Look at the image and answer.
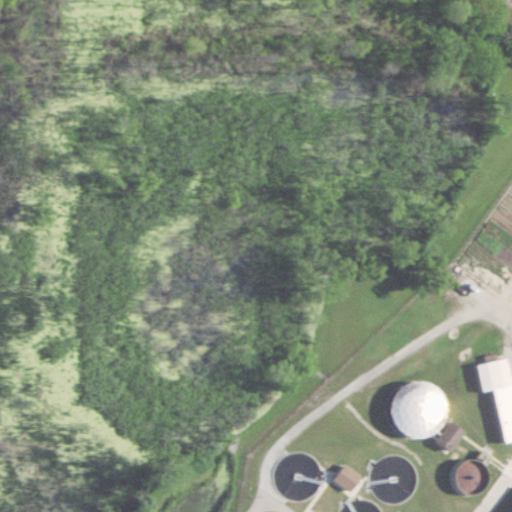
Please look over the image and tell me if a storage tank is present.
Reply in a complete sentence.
Yes, you can see a storage tank in this photo.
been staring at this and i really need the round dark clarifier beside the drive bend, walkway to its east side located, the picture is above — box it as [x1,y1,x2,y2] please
[273,452,324,502]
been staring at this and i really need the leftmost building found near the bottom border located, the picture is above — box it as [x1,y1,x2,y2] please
[332,466,361,492]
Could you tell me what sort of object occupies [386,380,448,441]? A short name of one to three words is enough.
storage tank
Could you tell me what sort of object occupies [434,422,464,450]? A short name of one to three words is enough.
building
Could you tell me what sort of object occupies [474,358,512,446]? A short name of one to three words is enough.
building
